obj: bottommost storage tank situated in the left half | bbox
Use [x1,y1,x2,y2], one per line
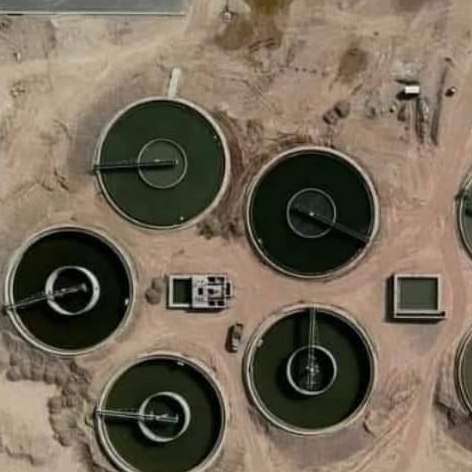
[92,352,229,472]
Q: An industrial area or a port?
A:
industrial area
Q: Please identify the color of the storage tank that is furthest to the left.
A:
black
